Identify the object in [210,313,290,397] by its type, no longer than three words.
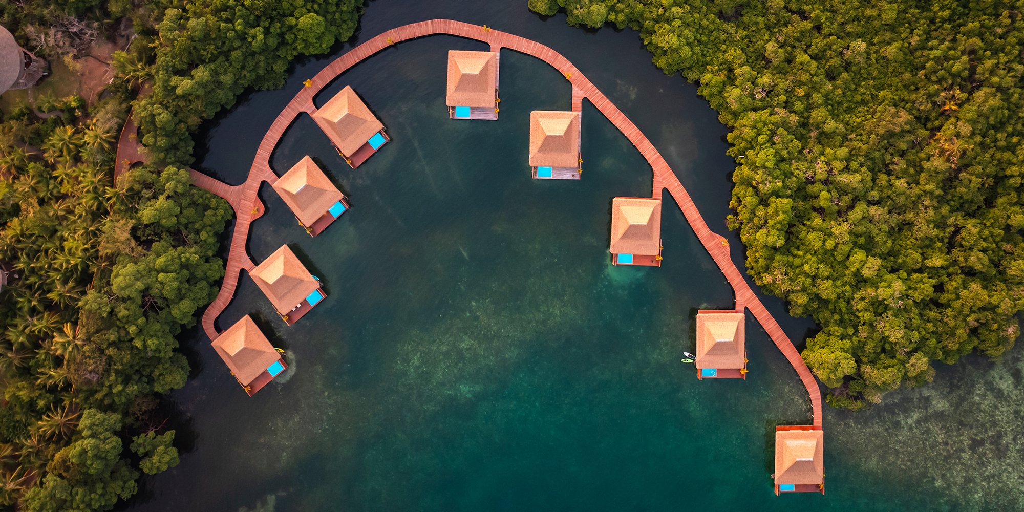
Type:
house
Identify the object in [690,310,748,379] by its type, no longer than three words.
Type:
house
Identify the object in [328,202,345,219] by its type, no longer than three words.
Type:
swimming pool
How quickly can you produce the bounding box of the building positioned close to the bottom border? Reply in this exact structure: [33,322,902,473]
[767,425,826,495]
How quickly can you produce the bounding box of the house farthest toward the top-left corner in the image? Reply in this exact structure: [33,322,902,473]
[0,23,47,102]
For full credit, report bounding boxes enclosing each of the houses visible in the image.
[271,155,352,240]
[0,23,47,102]
[445,51,500,121]
[248,244,329,327]
[311,85,391,171]
[527,111,582,179]
[607,198,663,266]
[767,425,826,495]
[690,310,748,379]
[210,313,290,397]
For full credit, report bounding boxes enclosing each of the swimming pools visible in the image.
[328,202,345,219]
[702,368,716,376]
[780,485,794,491]
[619,254,633,263]
[456,106,470,117]
[305,290,323,306]
[367,133,385,150]
[267,359,284,375]
[538,166,552,177]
